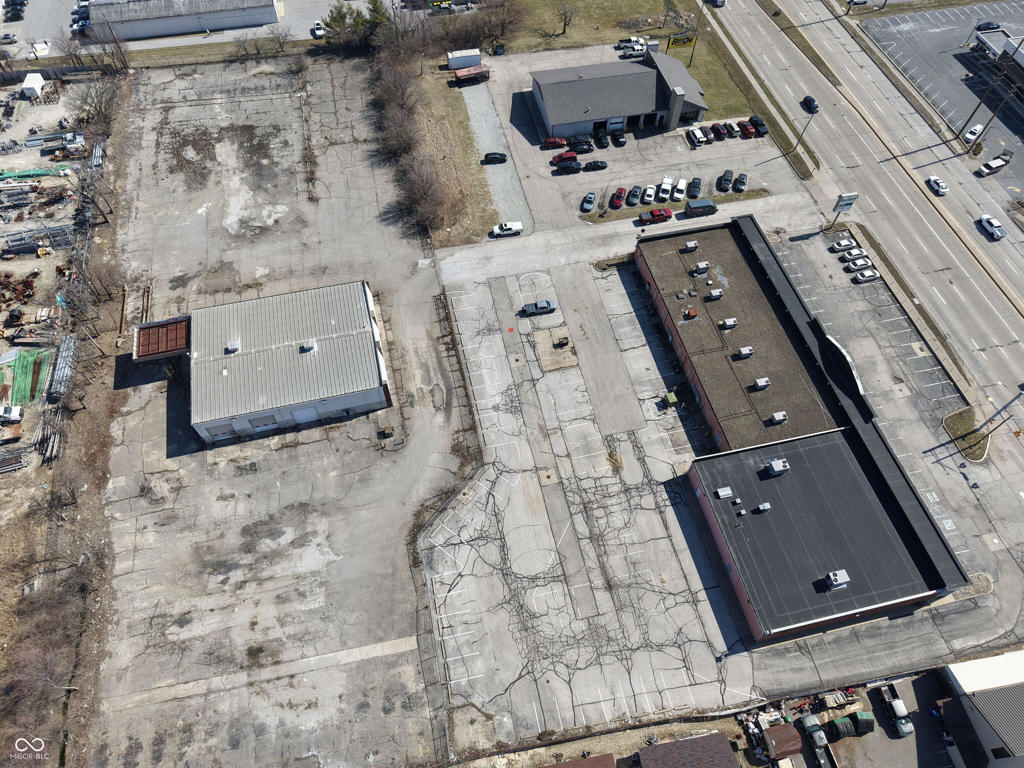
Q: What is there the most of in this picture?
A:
paved ground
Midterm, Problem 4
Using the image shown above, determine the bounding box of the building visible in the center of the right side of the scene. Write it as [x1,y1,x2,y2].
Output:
[634,211,975,642]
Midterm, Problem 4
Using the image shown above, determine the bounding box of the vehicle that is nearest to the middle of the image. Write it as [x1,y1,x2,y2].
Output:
[523,299,558,316]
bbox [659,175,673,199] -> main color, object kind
white vehicle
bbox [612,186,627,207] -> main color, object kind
red car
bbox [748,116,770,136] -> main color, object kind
black vehicle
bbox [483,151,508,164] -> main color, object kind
black vehicle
